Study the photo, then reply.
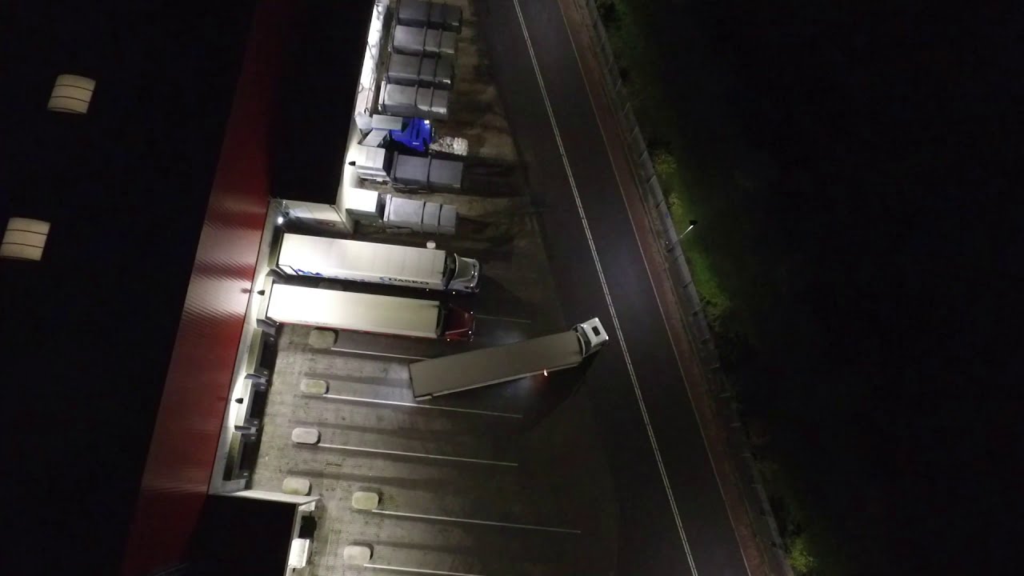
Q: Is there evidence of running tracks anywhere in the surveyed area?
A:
No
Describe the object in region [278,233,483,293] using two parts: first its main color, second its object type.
white truck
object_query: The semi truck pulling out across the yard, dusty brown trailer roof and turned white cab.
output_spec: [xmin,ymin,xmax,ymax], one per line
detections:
[407,313,616,397]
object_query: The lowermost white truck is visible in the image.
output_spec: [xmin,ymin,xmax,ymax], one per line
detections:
[268,284,478,344]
